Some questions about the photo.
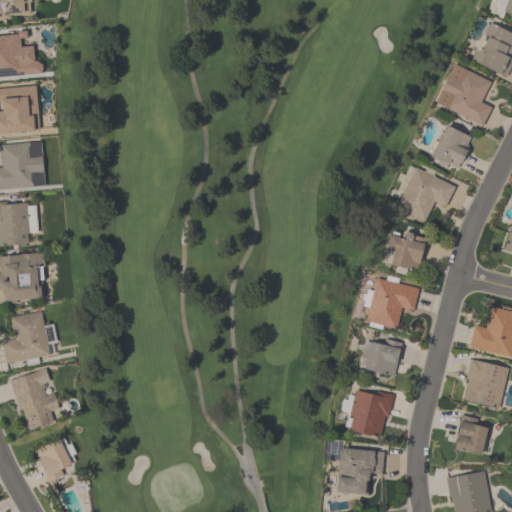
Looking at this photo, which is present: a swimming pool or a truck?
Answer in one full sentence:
I can see a swimming pool in this picture.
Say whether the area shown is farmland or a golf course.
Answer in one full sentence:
The picture captures a golf course.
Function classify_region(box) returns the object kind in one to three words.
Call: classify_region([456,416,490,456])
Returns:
house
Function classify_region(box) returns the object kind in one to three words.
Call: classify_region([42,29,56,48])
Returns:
swimming pool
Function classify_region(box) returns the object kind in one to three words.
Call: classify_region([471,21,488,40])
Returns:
swimming pool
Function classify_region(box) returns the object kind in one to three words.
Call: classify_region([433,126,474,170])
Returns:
house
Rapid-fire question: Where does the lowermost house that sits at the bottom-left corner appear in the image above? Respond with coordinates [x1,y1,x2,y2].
[38,440,76,483]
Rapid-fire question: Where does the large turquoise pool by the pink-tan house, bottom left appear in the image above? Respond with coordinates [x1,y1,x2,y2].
[61,490,82,512]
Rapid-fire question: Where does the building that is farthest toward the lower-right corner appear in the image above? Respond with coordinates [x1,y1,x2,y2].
[448,472,494,512]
